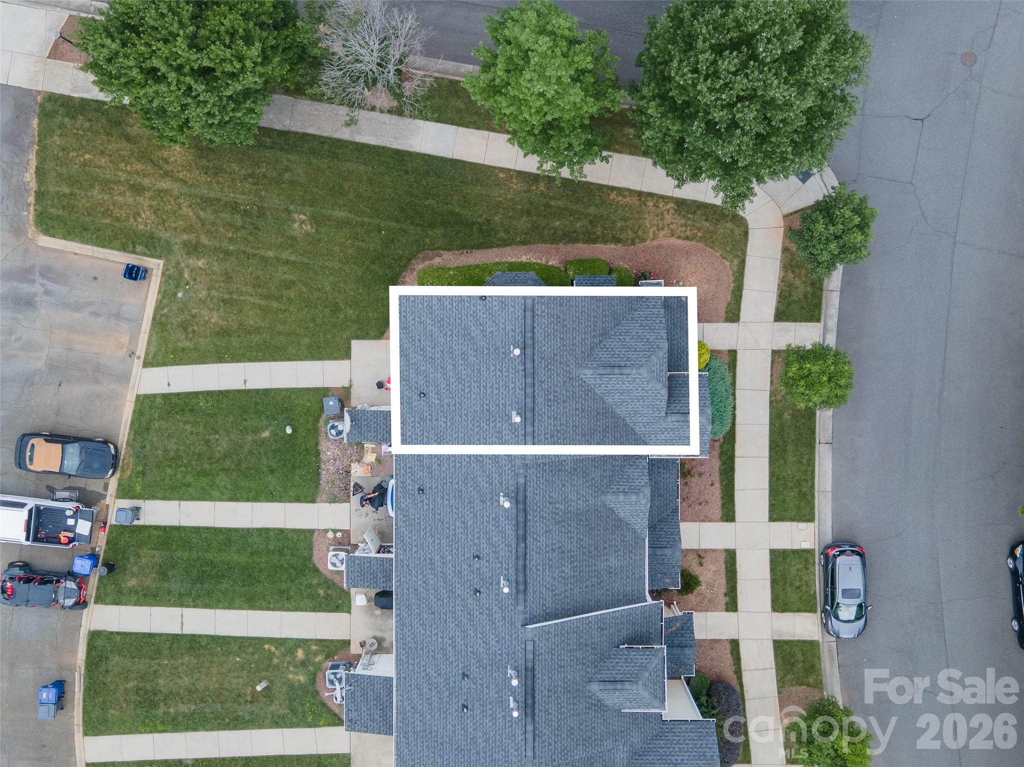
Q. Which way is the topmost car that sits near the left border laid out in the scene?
from left to right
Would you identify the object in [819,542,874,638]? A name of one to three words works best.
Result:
car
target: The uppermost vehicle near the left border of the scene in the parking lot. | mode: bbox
[15,431,123,484]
